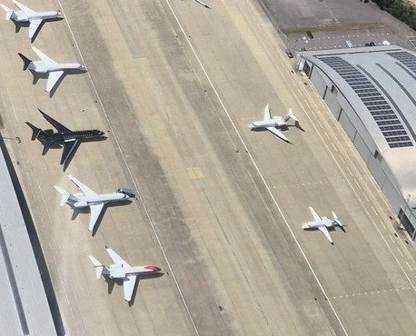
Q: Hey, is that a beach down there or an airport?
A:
airport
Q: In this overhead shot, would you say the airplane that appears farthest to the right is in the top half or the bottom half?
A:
bottom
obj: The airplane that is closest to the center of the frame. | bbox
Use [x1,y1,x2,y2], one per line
[248,106,305,142]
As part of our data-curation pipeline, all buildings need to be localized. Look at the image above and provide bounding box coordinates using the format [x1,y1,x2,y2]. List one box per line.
[0,144,56,336]
[296,43,416,228]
